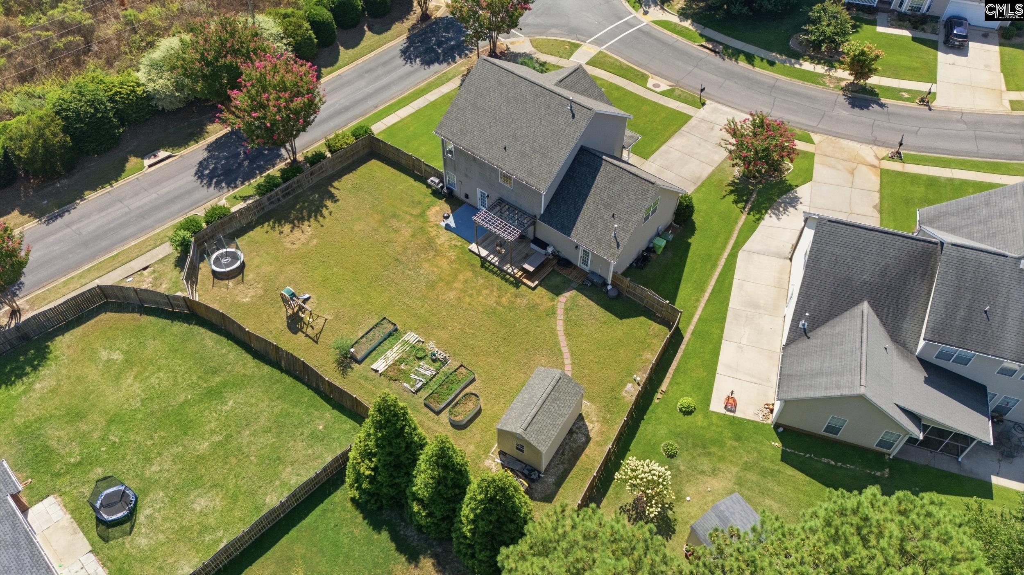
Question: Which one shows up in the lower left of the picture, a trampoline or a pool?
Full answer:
Looking in the lower left of the picture, you will find a trampoline.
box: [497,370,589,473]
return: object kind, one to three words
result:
shed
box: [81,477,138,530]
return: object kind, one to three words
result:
trampoline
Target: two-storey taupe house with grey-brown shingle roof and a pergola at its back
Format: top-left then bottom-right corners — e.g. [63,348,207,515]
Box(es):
[433,58,686,287]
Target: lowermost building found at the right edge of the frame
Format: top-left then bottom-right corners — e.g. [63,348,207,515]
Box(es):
[768,165,1024,468]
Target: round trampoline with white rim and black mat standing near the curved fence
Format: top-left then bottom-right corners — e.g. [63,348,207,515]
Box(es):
[202,232,244,279]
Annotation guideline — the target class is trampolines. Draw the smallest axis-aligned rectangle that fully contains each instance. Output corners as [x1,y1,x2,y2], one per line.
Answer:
[202,232,244,279]
[81,477,138,530]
